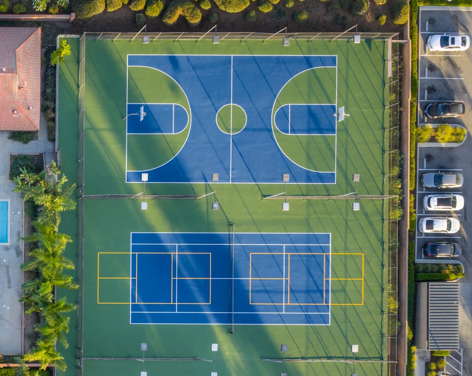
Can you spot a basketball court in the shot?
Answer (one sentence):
Yes, looking at the shot, I can spot a basketball court.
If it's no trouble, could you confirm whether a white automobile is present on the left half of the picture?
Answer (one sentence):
No, no white automobile is visible on the left half of the picture.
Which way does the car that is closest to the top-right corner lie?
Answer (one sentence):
What the image shows is the car that is closest to the top-right corner lying from side to side.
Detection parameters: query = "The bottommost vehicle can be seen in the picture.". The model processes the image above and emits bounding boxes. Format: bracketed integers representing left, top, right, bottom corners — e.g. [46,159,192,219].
[422,239,462,259]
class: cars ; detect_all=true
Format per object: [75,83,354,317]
[425,31,469,52]
[421,192,463,212]
[419,170,463,190]
[416,215,459,235]
[422,239,462,259]
[422,99,465,119]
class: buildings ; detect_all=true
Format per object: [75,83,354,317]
[0,27,40,131]
[407,282,458,351]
